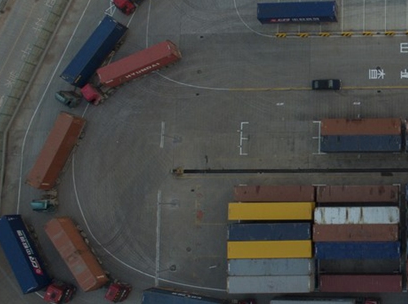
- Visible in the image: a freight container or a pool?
freight container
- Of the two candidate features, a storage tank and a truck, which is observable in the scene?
truck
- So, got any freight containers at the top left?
Yes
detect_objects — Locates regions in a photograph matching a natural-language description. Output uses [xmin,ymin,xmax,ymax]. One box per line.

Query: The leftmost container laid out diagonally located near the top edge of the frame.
[59,13,126,90]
